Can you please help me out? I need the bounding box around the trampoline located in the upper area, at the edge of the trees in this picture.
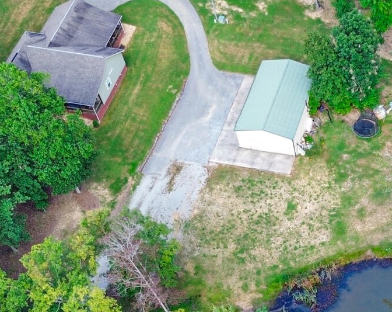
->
[352,105,380,138]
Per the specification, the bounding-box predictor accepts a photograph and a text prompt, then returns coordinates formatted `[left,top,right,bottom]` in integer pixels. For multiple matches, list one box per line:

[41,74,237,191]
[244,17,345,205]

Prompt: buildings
[233,57,321,154]
[2,0,141,122]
